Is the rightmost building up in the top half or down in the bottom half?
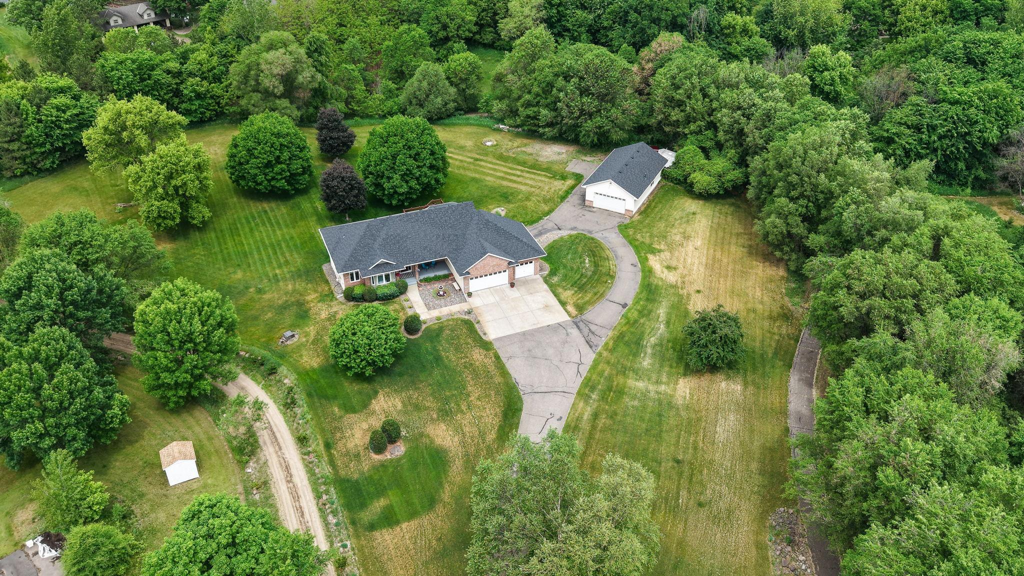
top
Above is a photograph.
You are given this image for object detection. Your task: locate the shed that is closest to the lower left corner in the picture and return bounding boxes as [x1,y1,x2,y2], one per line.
[159,441,200,486]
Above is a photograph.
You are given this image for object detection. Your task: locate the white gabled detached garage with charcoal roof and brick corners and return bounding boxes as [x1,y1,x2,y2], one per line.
[580,142,669,216]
